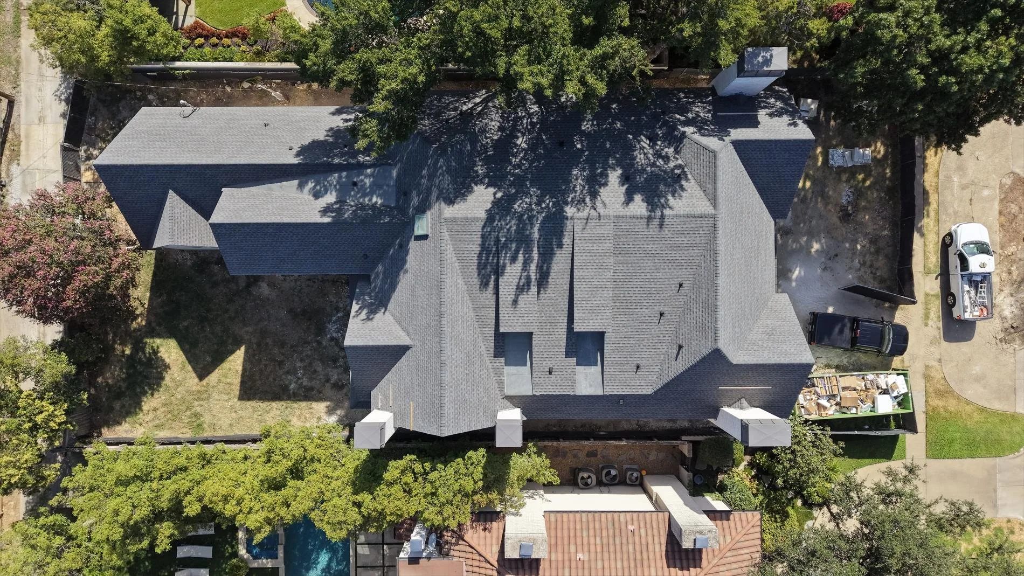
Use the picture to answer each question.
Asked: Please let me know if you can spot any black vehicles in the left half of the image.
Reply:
No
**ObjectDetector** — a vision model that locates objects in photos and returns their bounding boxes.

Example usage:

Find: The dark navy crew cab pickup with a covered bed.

[804,313,911,359]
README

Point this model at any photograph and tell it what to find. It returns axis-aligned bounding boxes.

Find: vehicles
[804,313,911,359]
[943,222,996,325]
